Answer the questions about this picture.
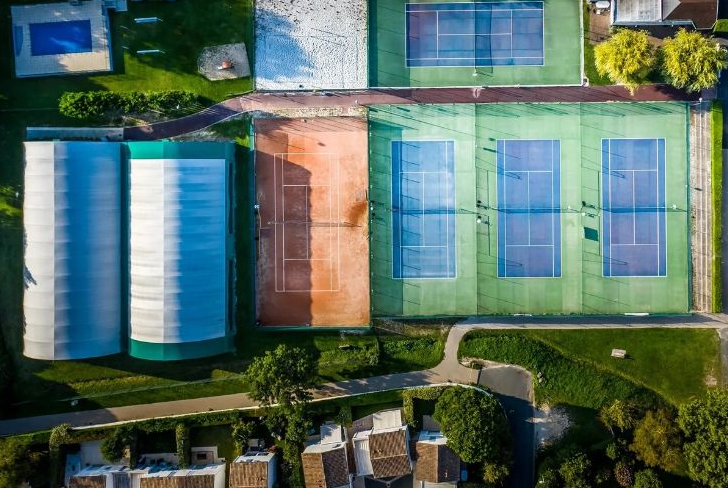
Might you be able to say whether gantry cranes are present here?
No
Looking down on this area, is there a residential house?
Yes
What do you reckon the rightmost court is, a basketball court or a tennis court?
tennis court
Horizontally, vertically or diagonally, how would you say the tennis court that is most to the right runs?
vertically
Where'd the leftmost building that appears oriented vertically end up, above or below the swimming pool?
below it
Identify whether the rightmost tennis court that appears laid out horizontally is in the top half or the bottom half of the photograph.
top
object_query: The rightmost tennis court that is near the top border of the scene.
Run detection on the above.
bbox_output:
[369,0,582,87]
